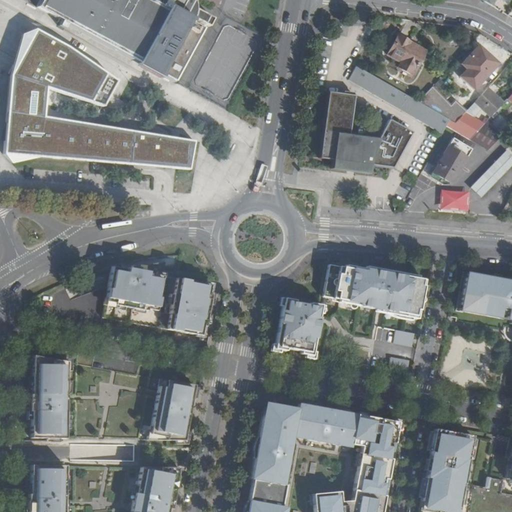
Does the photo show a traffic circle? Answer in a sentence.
Yes, there's a traffic circle down there.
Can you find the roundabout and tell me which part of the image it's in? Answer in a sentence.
You can find the roundabout in the center area of the picture.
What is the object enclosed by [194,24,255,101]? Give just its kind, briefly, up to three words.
sports court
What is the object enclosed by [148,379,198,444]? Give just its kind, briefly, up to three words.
building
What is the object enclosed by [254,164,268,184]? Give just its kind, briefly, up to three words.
vehicle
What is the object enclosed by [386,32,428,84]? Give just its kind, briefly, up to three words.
house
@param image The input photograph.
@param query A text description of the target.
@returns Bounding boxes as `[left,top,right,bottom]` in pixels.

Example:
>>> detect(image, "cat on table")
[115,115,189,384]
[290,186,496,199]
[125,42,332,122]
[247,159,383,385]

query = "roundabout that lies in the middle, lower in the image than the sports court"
[218,198,301,280]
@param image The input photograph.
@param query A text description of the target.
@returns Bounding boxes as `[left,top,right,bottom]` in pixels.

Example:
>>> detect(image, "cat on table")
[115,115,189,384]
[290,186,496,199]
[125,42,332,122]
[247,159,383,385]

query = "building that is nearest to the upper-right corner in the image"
[459,45,503,94]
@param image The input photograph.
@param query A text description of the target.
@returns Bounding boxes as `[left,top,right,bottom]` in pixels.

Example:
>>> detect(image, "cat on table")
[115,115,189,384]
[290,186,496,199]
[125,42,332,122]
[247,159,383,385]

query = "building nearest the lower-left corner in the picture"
[28,462,70,512]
